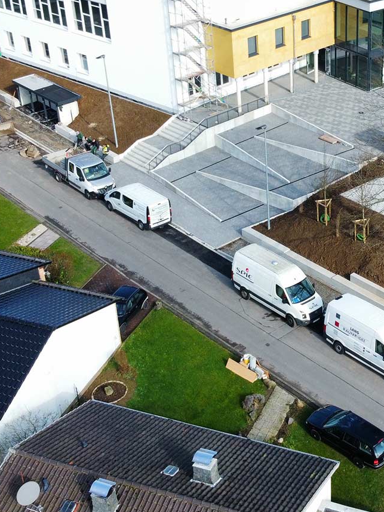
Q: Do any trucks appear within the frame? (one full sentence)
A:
Yes, the picture does show a truck.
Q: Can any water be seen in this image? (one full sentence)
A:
No, water can't be seen anywhere here.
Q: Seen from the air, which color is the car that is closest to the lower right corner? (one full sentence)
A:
The color of the car that is closest to the lower right corner is black.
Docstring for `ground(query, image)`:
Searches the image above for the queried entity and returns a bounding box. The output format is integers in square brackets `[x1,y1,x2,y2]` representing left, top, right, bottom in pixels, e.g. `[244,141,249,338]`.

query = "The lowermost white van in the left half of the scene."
[104,183,171,230]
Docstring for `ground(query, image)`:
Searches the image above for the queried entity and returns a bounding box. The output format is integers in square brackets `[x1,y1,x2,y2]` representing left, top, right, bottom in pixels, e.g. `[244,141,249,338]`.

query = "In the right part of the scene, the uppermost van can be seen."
[236,241,328,329]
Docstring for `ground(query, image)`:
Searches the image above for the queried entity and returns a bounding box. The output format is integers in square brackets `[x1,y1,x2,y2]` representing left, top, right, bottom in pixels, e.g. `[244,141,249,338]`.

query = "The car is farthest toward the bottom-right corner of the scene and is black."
[305,402,384,476]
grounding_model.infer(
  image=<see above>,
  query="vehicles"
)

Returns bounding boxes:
[236,241,328,329]
[322,289,384,375]
[305,402,384,476]
[104,183,171,230]
[43,147,119,197]
[112,287,158,337]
